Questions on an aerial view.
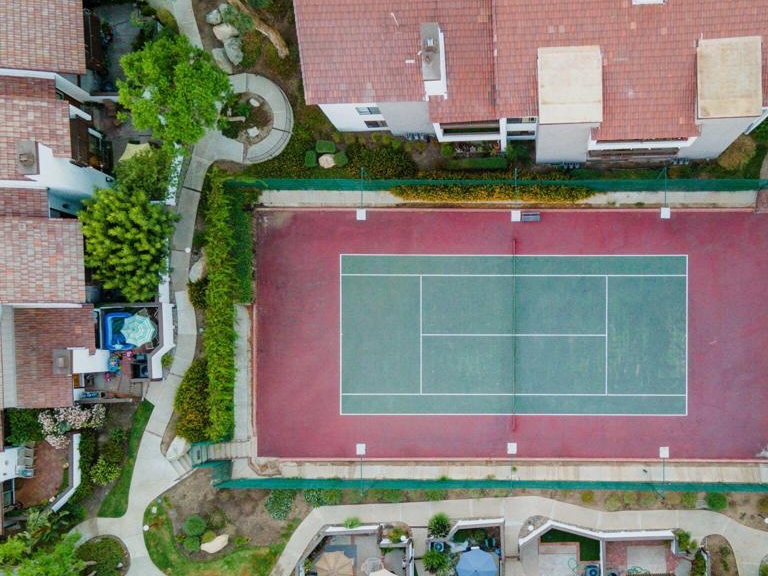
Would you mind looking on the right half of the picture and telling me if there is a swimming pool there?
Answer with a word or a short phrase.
No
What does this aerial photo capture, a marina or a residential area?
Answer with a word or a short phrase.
residential area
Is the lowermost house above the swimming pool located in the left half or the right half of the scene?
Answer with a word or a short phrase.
left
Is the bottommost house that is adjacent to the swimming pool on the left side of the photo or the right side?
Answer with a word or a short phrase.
left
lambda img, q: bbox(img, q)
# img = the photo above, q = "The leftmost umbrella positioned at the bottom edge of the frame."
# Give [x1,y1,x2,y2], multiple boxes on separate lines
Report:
[316,550,355,576]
